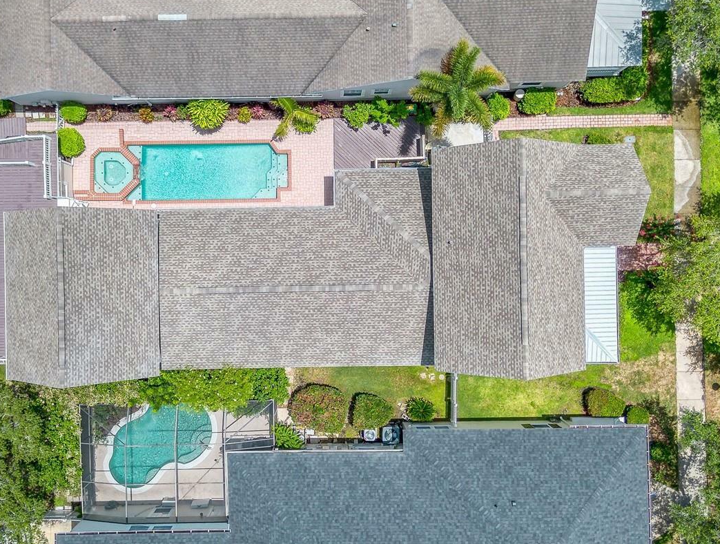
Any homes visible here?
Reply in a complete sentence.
Yes, looking at the shot, I can spot a home.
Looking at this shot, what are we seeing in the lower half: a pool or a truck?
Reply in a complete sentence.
You can see a pool in the lower half.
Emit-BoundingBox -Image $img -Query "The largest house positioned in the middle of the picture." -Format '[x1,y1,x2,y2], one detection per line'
[3,139,651,387]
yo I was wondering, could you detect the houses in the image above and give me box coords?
[3,139,651,387]
[53,416,654,544]
[0,0,666,103]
